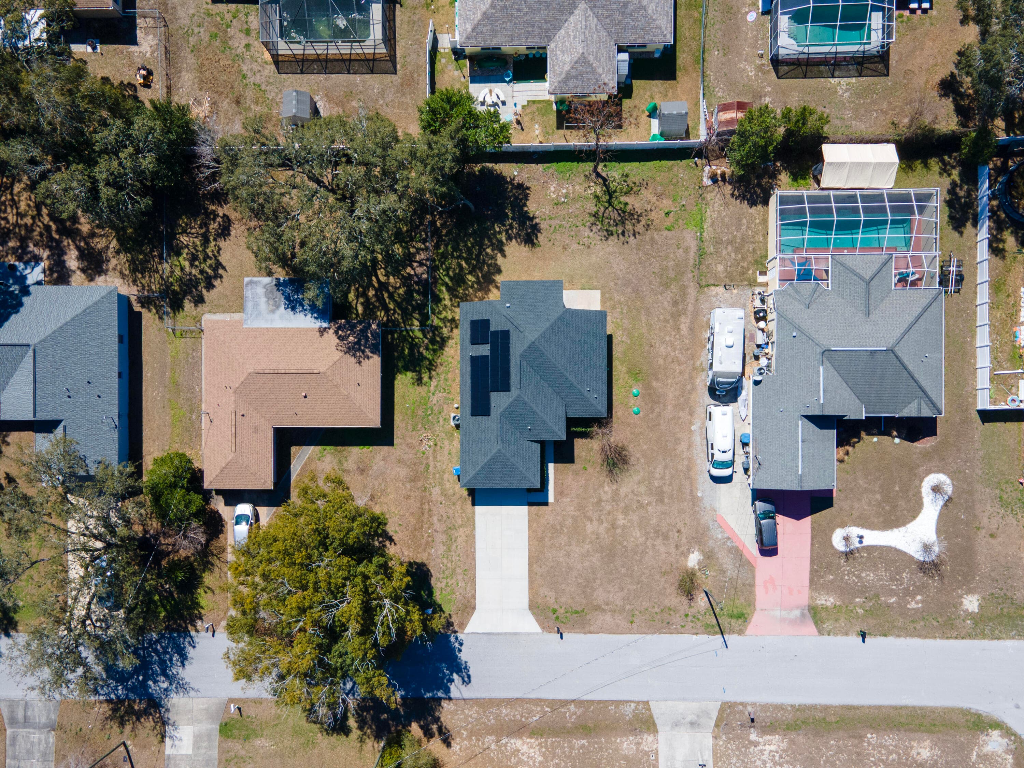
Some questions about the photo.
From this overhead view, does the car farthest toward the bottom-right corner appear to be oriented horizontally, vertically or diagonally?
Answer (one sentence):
The car farthest toward the bottom-right corner runs vertically in the image.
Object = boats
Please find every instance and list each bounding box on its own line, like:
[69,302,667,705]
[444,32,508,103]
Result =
[737,376,749,421]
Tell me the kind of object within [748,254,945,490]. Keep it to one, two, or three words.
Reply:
house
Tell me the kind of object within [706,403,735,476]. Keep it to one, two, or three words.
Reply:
van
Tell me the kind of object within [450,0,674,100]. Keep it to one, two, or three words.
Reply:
house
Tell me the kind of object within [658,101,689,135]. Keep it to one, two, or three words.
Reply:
shed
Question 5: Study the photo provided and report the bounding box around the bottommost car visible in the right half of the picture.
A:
[751,496,778,548]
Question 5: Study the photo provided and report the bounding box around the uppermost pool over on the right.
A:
[783,0,871,47]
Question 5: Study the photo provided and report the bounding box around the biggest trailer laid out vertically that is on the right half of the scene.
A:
[706,308,744,401]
